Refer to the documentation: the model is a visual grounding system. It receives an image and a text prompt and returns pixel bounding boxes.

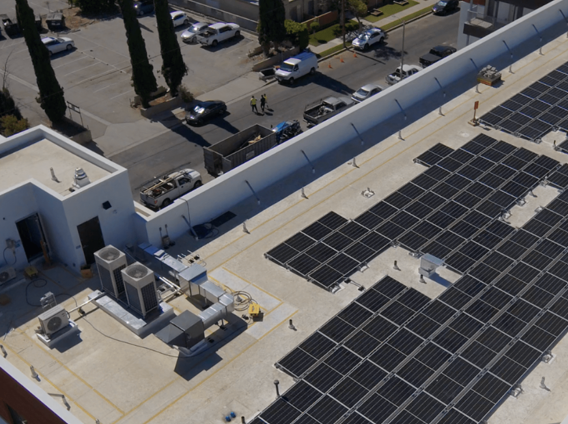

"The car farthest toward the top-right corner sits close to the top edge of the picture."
[432,0,458,14]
